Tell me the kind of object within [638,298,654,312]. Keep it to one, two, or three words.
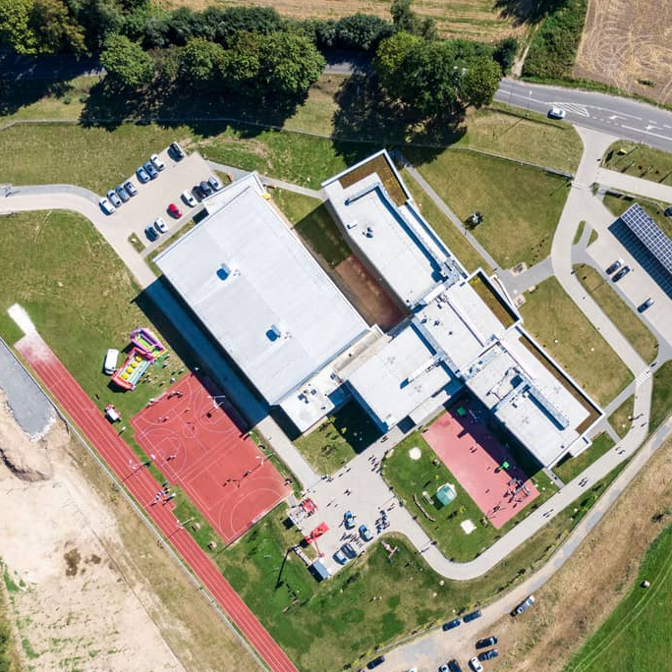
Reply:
car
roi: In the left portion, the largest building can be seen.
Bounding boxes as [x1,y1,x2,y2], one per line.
[153,171,373,405]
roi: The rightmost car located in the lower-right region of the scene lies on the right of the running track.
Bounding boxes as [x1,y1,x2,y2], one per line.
[512,597,533,616]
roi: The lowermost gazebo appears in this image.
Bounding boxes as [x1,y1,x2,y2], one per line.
[437,484,456,505]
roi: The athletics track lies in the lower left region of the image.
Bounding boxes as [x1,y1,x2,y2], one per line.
[15,333,299,672]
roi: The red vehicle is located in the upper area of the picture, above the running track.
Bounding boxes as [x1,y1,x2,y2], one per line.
[167,203,183,219]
